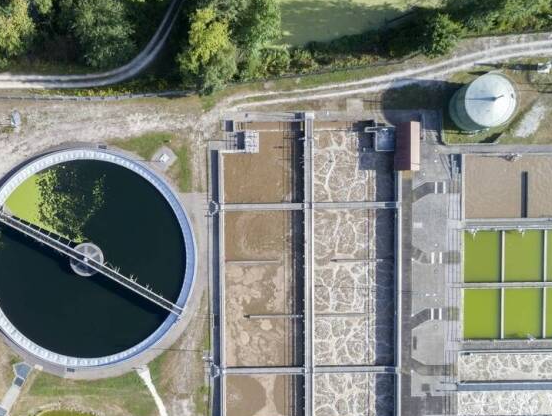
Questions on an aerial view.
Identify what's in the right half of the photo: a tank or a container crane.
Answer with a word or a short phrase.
tank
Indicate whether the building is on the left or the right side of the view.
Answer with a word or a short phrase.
right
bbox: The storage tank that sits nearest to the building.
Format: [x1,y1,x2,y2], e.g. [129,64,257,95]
[450,72,520,137]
